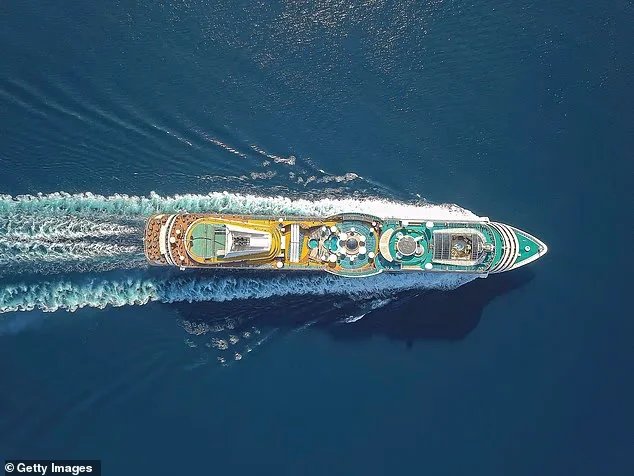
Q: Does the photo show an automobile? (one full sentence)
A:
No, this view has no automobile in it.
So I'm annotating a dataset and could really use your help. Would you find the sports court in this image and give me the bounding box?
[192,223,226,258]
